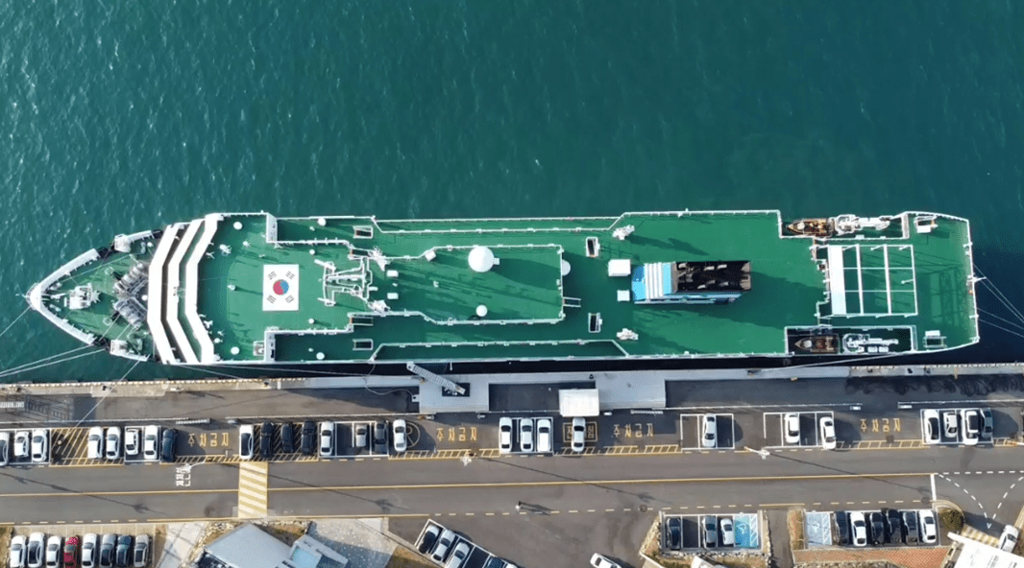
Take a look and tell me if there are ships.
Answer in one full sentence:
Yes, this view includes a ship.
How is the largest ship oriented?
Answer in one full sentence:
The largest ship has been laid out horizontally relative to the frame.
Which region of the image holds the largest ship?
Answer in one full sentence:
The largest ship sits in the center section of the image.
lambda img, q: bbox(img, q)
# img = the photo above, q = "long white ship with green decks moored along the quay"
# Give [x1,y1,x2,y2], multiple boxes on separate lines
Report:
[12,209,988,367]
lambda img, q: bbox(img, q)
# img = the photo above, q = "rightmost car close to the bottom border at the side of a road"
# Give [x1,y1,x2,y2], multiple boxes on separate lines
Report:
[992,523,1015,555]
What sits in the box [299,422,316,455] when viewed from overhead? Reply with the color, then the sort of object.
black car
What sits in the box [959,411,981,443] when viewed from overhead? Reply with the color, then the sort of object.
white car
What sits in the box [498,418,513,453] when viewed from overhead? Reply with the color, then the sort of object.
white car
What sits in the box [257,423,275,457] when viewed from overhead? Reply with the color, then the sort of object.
black car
